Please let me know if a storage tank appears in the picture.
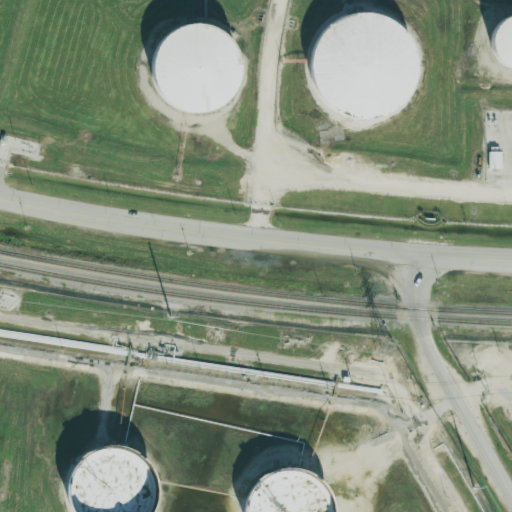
Yes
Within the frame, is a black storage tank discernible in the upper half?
No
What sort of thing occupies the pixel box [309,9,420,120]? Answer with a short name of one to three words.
storage tank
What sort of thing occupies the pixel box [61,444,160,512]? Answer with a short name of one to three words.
storage tank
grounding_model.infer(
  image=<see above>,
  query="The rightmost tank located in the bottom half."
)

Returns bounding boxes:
[240,465,337,512]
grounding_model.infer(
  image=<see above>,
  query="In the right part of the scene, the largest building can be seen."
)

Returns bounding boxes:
[488,148,504,170]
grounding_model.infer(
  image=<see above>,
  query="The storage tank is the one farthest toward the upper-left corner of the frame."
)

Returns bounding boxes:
[150,20,247,113]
